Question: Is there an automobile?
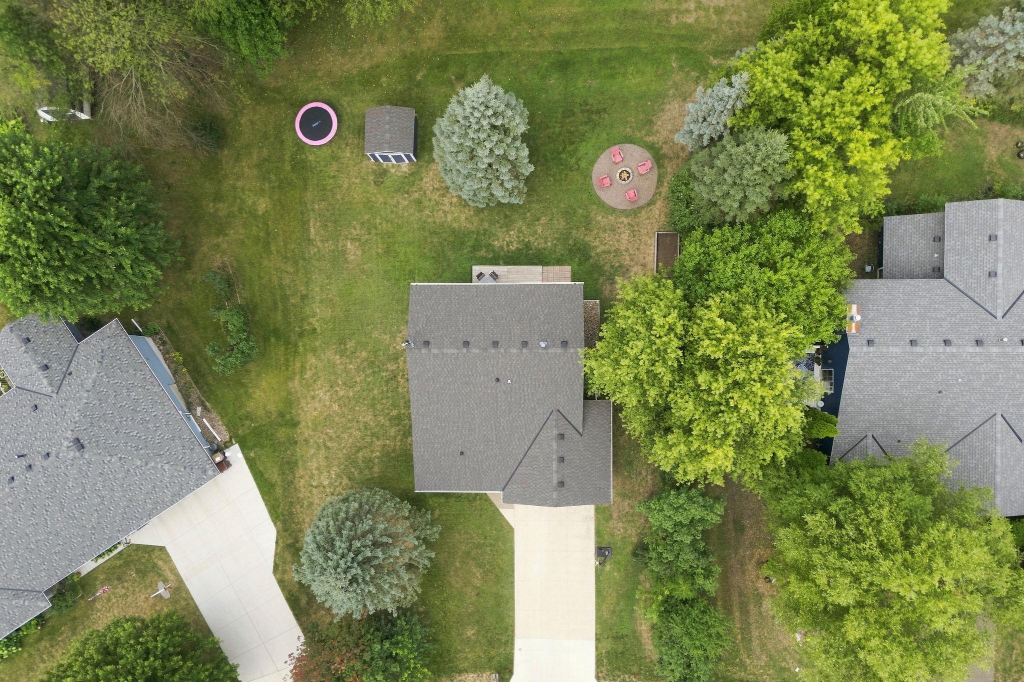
No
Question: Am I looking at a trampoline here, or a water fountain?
trampoline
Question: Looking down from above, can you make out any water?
No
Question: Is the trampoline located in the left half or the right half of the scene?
left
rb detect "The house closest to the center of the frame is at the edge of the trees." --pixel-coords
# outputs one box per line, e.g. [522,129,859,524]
[402,281,613,508]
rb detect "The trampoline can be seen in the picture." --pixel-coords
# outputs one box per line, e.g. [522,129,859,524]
[296,103,337,145]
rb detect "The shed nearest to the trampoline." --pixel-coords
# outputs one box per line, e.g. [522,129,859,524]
[365,105,416,162]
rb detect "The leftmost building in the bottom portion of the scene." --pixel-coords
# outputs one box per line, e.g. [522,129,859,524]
[0,303,226,640]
